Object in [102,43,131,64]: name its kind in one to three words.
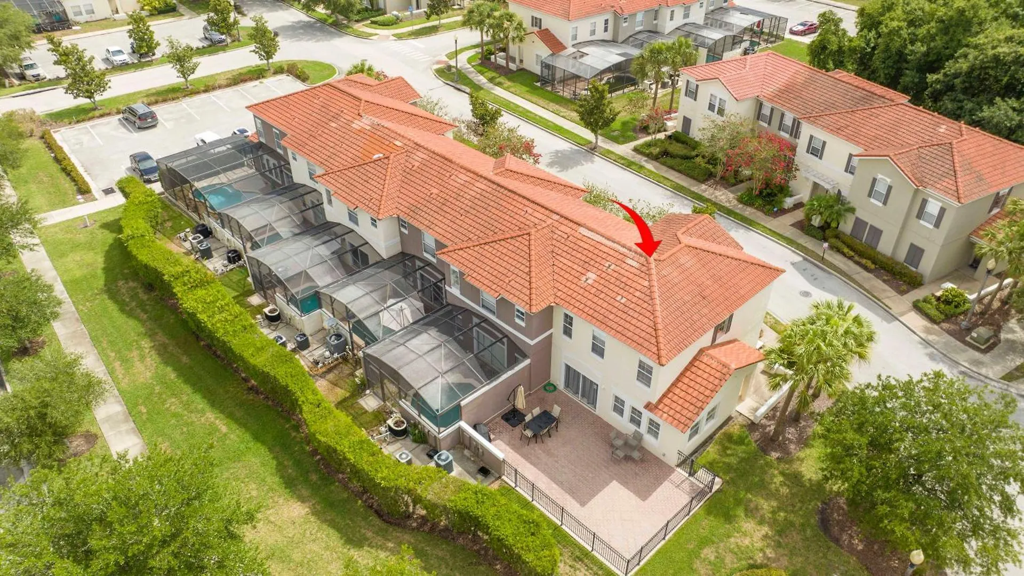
car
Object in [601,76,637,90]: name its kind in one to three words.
swimming pool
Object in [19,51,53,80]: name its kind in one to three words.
car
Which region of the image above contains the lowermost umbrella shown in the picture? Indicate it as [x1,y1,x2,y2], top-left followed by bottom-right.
[504,384,528,426]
